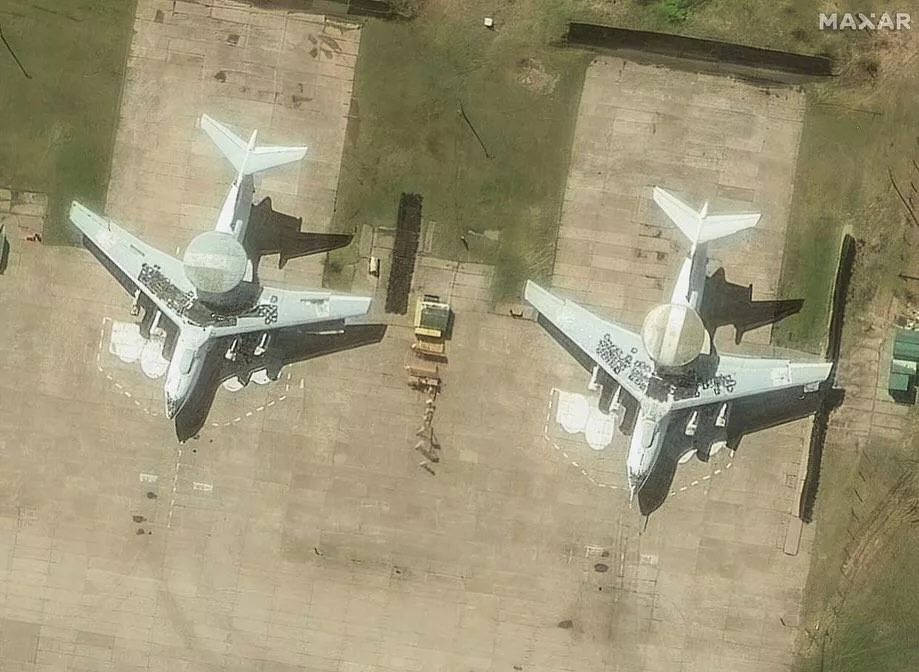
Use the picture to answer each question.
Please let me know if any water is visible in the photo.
No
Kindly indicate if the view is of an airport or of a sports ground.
airport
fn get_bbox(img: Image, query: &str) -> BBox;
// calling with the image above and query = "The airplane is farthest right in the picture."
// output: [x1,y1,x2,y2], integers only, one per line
[521,188,829,506]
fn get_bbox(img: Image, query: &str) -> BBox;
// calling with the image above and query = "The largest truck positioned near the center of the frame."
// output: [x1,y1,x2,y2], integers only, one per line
[412,290,452,341]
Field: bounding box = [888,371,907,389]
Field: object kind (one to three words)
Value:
shed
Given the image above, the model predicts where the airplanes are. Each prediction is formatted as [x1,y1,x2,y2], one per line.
[70,116,372,416]
[521,188,829,506]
